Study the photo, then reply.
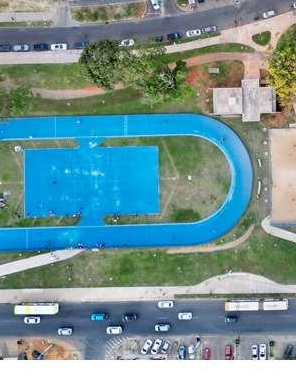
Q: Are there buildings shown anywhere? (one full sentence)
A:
Yes, the image includes a building.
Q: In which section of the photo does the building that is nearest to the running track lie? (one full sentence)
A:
The building that is nearest to the running track sits in the top right section of the image.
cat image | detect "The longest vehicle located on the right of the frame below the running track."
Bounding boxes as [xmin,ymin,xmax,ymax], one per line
[225,296,289,310]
